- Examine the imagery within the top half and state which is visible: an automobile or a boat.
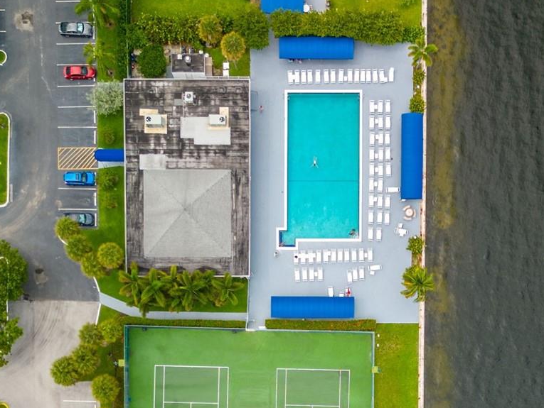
automobile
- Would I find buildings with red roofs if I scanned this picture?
No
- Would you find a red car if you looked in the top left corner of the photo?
Yes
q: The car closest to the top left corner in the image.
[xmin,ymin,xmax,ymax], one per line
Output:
[60,21,93,38]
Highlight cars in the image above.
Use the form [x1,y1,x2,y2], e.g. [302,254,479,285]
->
[64,171,97,186]
[60,21,93,38]
[61,213,94,227]
[63,64,97,81]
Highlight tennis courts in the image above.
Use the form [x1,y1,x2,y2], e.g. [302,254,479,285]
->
[275,368,351,408]
[153,365,229,408]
